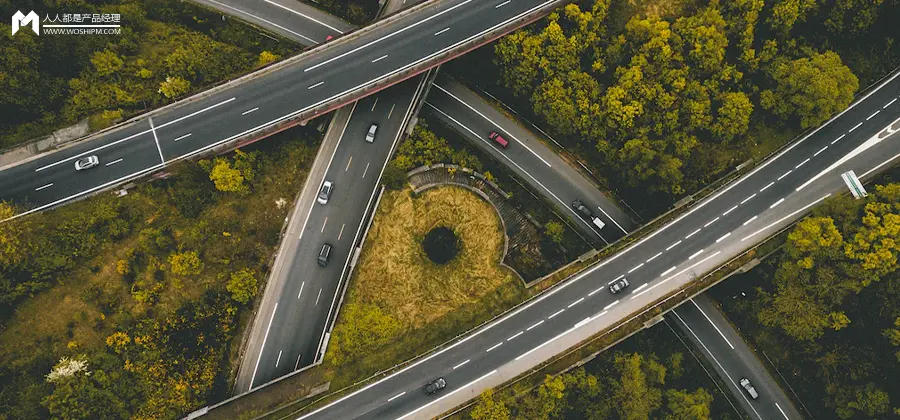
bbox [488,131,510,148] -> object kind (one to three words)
vehicle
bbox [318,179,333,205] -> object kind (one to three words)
car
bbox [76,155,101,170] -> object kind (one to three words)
car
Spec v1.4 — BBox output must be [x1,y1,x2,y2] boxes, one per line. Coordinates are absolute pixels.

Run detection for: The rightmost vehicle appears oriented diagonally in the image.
[739,377,758,399]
